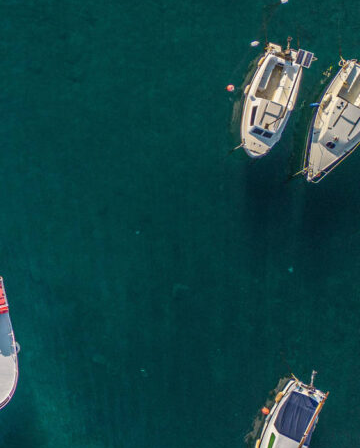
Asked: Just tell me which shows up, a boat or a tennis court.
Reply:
boat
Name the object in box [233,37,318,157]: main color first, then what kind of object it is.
white boat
